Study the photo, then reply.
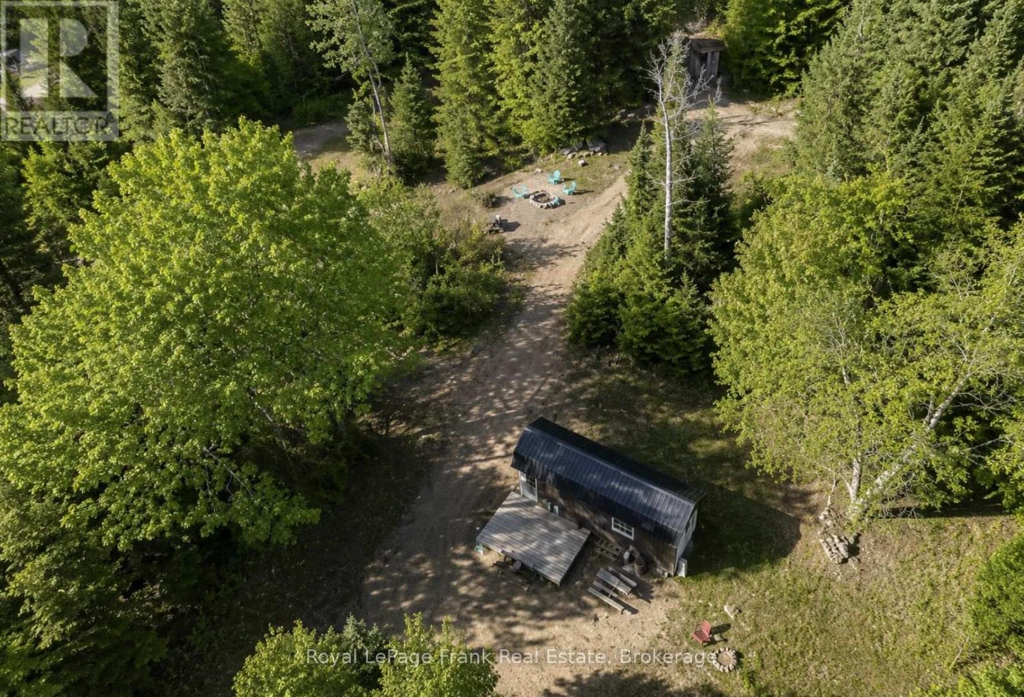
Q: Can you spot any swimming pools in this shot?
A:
No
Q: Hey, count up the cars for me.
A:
zero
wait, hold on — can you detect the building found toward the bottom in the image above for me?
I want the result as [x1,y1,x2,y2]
[515,420,706,575]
